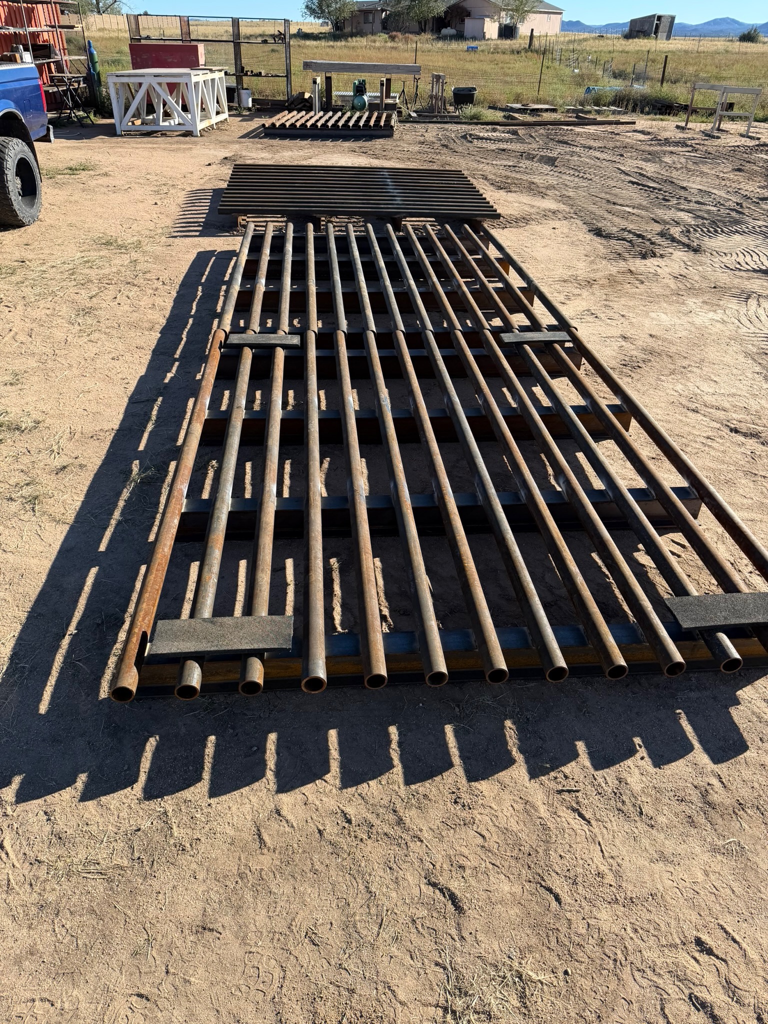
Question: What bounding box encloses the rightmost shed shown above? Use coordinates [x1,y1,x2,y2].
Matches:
[629,13,677,39]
